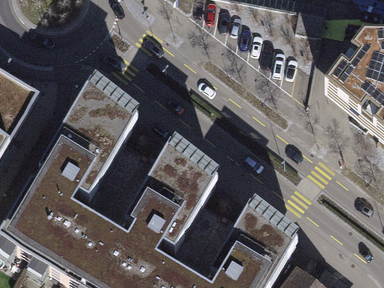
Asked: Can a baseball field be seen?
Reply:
No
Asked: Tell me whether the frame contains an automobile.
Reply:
Yes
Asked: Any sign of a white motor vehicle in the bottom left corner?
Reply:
No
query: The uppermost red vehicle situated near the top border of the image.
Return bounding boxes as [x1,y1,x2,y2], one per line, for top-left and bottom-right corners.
[204,5,217,28]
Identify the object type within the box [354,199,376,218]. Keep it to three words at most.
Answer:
car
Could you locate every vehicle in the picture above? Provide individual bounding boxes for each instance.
[148,121,174,143]
[100,54,127,74]
[238,28,251,54]
[204,5,217,28]
[229,16,242,40]
[260,45,273,71]
[250,36,264,62]
[108,0,125,20]
[354,199,376,218]
[196,82,218,102]
[284,59,298,86]
[218,10,230,36]
[272,54,286,82]
[140,37,166,58]
[282,145,307,168]
[356,246,376,266]
[192,2,204,26]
